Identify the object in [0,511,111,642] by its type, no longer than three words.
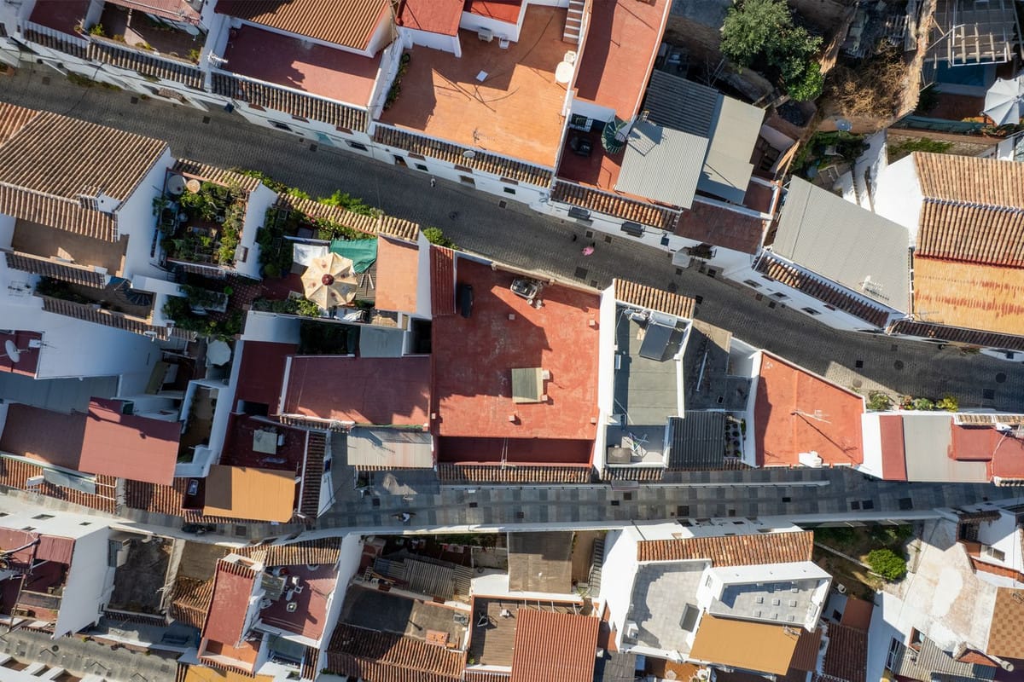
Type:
house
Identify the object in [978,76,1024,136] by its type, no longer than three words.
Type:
umbrella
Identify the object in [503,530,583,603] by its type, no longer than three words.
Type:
house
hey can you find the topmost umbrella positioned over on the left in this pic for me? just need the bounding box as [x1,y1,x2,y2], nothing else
[302,251,362,311]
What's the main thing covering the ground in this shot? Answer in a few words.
buildings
